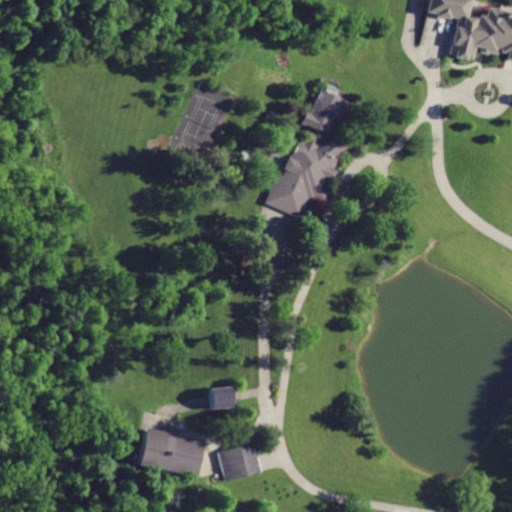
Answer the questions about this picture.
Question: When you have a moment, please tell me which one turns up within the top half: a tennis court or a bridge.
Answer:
tennis court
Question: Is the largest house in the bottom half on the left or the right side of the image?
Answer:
left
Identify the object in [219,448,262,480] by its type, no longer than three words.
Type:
building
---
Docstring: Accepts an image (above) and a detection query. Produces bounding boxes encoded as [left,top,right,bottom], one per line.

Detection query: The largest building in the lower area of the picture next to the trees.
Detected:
[142,429,206,475]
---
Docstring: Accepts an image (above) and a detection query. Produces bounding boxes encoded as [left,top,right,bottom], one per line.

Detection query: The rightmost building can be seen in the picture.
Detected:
[430,0,512,62]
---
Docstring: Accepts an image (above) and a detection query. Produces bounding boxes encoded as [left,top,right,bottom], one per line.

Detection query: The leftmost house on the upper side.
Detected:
[264,84,348,217]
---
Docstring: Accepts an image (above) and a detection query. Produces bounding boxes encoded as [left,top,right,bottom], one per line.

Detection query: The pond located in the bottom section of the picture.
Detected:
[358,255,512,480]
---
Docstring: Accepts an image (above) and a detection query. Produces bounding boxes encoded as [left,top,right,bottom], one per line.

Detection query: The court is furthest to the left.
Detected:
[170,91,236,150]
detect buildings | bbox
[142,429,206,475]
[430,0,512,62]
[208,386,234,410]
[219,448,262,480]
[264,84,348,217]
